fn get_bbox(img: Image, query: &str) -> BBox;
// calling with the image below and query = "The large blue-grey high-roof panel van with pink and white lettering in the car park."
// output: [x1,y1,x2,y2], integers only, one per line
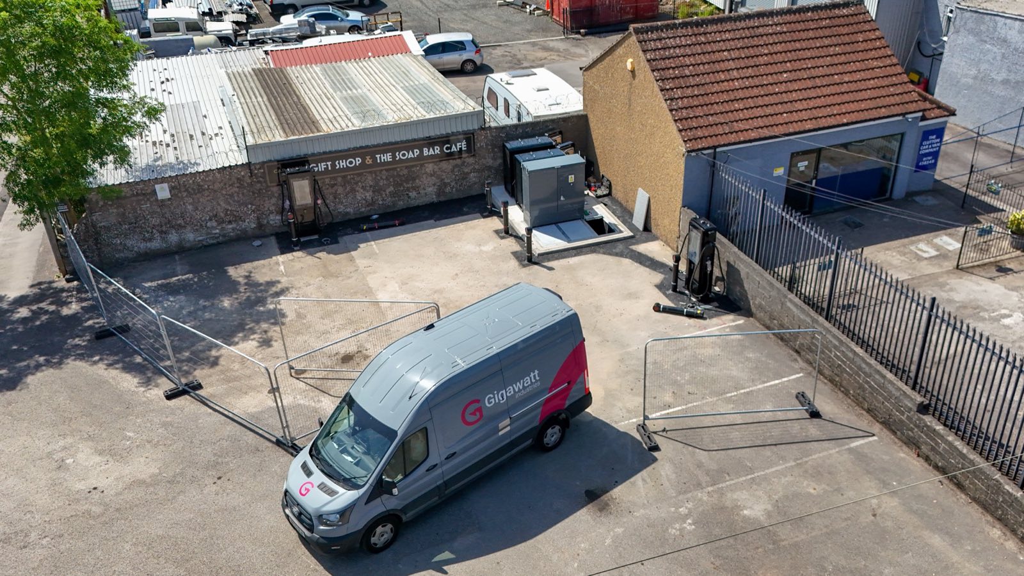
[282,275,593,554]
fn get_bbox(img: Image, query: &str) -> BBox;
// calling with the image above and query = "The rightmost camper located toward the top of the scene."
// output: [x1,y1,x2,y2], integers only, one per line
[484,68,580,119]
